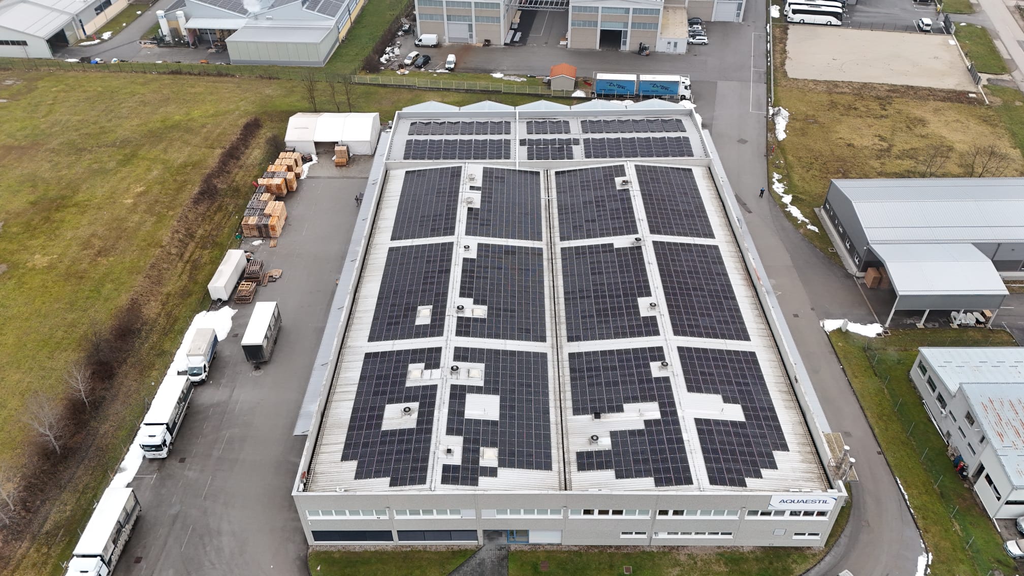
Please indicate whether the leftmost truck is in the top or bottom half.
bottom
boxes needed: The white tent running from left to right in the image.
[283,115,384,155]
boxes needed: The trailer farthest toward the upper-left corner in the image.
[207,248,248,312]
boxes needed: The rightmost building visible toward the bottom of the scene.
[909,345,1024,528]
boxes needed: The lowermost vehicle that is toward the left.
[70,488,142,576]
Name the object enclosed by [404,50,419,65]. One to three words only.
car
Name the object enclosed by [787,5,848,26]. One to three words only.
bus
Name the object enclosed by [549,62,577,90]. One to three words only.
shed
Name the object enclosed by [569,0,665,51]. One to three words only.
building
